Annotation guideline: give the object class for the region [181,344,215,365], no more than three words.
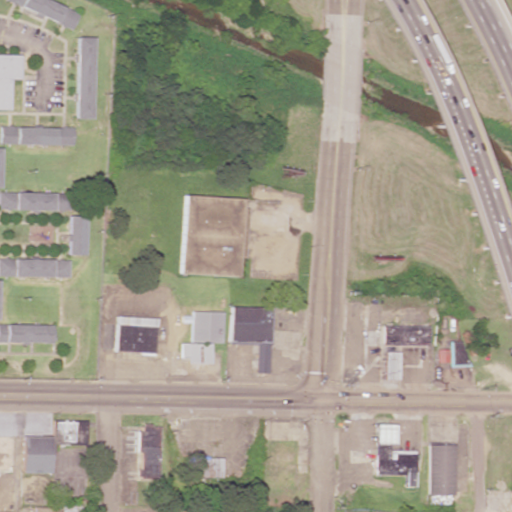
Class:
building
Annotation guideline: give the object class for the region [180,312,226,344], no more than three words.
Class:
building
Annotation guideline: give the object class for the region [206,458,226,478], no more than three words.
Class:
shed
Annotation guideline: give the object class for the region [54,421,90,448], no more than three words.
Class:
house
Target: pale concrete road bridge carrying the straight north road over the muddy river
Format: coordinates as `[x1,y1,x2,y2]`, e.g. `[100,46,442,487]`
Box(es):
[322,15,364,142]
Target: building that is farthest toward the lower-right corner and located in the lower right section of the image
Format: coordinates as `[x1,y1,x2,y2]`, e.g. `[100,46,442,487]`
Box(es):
[428,444,458,506]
